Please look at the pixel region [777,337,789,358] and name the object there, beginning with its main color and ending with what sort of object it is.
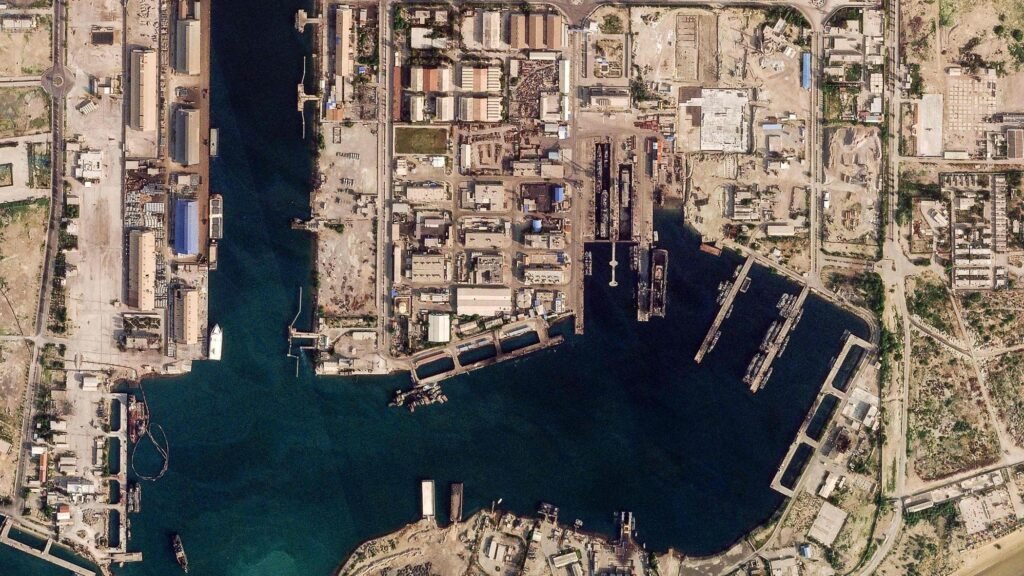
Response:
gray boat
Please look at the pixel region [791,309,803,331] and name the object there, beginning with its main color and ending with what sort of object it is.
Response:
gray boat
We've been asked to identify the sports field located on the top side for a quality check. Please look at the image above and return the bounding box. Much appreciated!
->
[391,125,449,155]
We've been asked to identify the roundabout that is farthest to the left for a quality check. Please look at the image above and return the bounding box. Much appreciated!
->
[41,65,75,98]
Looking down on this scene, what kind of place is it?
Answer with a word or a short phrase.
port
